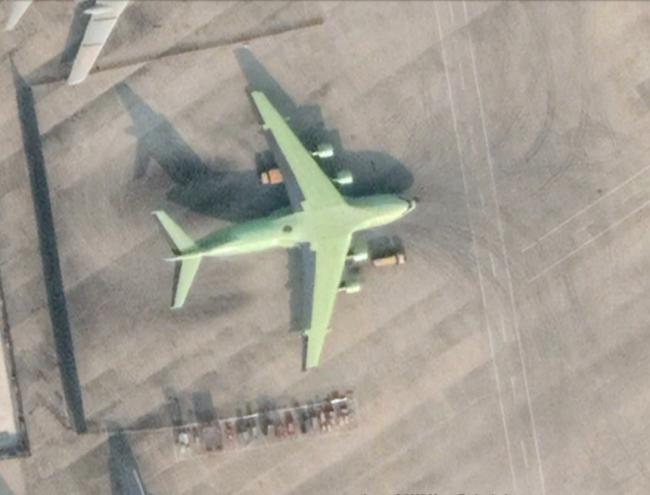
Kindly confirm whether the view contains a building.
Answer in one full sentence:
No, the scene contains no building.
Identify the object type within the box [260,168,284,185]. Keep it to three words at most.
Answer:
vehicle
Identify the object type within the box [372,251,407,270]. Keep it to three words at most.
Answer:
vehicle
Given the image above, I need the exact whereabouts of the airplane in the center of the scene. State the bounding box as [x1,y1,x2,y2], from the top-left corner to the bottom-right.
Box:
[149,92,416,369]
